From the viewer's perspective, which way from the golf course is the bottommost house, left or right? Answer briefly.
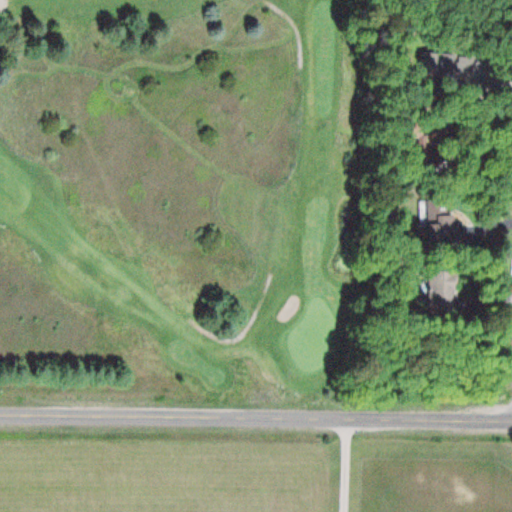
on the right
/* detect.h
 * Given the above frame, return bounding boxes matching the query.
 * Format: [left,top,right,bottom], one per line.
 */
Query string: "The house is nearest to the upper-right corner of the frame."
[428,51,477,78]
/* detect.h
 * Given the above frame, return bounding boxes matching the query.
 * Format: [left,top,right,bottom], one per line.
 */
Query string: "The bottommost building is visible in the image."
[430,271,459,309]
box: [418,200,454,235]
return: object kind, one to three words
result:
house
